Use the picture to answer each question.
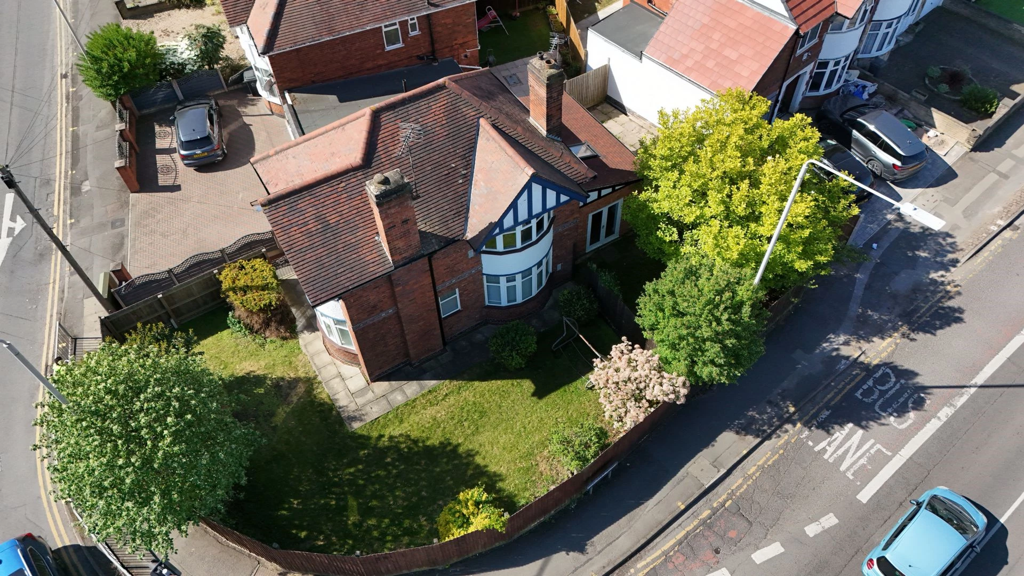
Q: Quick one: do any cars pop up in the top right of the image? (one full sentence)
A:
Yes, there is a car in the top right of the image.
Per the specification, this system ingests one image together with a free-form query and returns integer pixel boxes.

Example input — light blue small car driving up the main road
[864,487,983,576]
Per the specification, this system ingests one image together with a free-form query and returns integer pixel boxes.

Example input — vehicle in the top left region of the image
[172,103,225,168]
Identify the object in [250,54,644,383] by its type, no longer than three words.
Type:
house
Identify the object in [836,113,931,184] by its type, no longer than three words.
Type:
car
